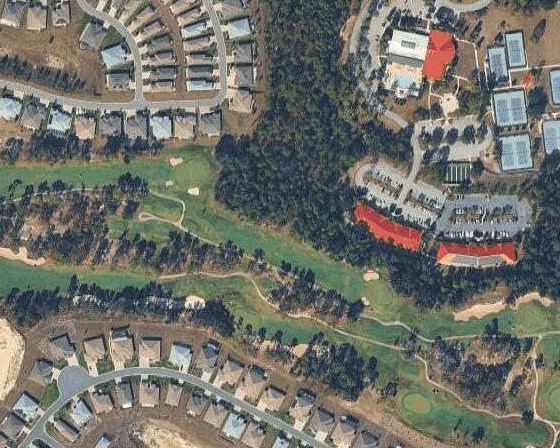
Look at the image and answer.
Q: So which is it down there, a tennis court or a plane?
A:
tennis court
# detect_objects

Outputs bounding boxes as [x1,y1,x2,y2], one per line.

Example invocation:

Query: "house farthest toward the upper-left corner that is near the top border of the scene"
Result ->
[1,0,24,24]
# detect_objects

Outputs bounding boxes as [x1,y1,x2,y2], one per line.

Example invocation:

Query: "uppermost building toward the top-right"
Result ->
[388,29,456,79]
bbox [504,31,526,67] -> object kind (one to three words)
tennis court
